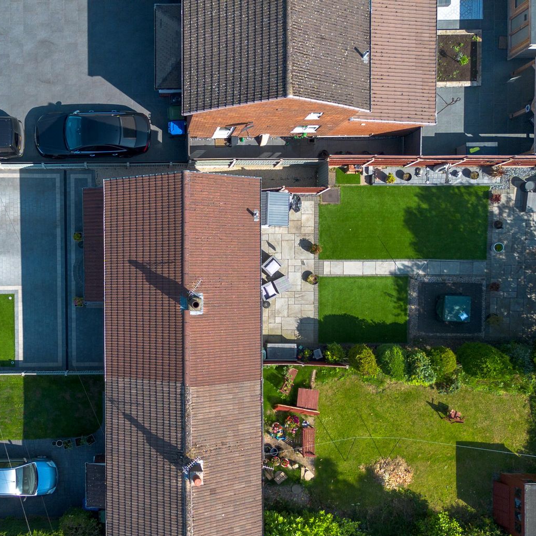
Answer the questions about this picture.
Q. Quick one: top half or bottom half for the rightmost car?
top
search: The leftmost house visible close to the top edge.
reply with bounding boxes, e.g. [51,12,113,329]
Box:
[153,0,438,139]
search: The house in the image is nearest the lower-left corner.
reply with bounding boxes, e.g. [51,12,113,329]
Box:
[83,378,263,536]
